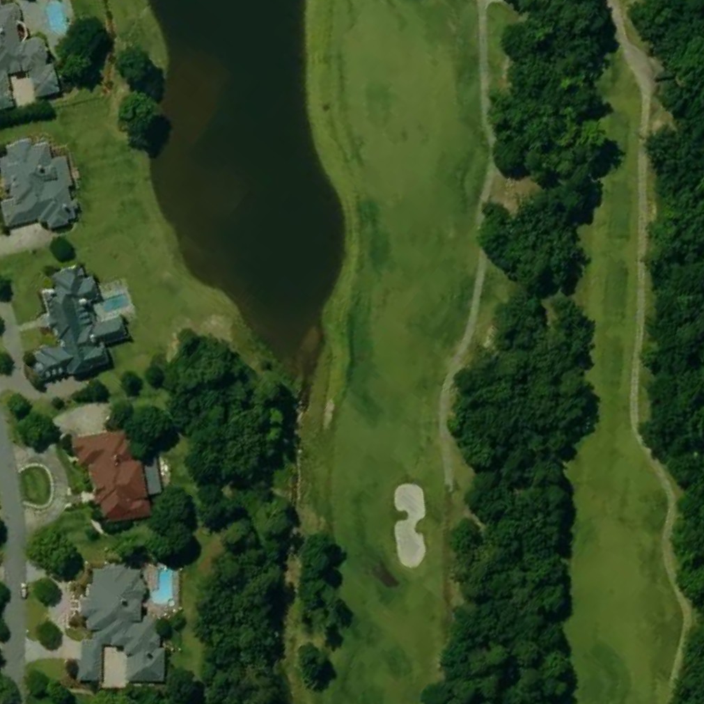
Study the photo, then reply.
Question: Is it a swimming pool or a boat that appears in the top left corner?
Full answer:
It is a swimming pool that can be seen in the top left corner.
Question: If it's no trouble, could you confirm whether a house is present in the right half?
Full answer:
No, no house is visible in the right half.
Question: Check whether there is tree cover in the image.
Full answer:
Yes, there is tree cover in the image.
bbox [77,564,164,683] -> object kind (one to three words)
house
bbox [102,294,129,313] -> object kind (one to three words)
swimming pool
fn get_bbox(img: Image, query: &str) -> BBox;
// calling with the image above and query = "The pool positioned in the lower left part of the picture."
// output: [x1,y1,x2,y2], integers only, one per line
[151,568,175,607]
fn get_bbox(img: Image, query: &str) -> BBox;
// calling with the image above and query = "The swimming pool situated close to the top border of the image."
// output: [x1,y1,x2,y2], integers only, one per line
[46,0,70,35]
